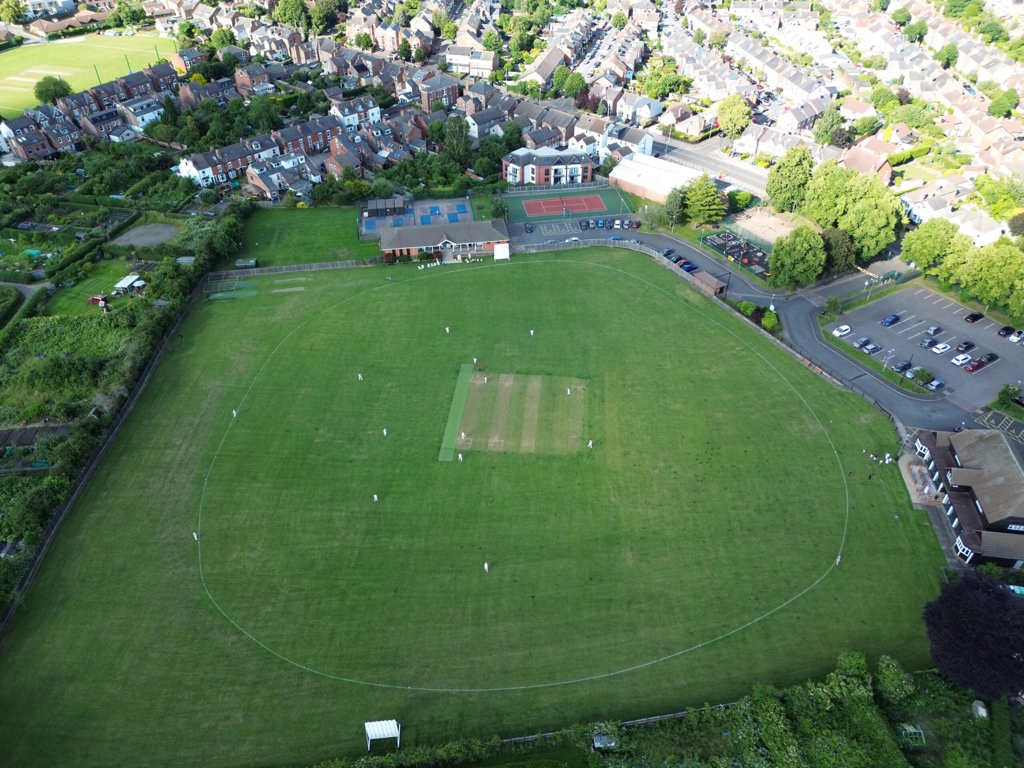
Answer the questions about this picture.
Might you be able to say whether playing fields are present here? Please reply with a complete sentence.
Yes, I can see a playing field in this picture.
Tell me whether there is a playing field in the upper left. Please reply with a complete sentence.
Yes, the scene does show a playing field in the upper left.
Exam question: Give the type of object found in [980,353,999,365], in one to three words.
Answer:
vehicle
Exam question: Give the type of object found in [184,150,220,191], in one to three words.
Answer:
house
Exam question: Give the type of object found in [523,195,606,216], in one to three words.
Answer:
tennis court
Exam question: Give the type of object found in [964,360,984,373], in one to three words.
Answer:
vehicle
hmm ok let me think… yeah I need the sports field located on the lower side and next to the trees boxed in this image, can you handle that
[0,206,944,768]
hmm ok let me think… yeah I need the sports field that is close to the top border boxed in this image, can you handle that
[0,34,177,124]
